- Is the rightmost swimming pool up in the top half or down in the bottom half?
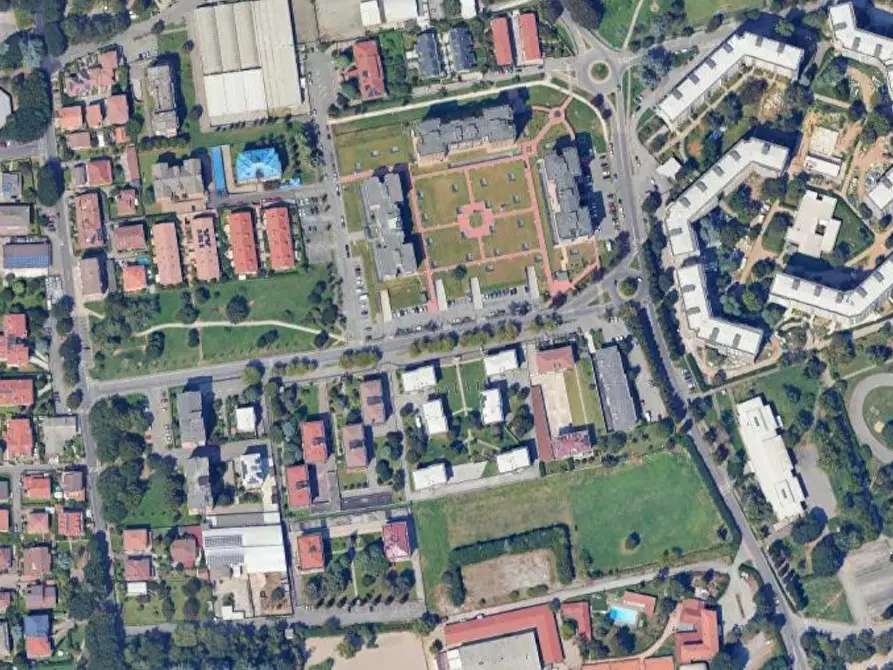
bottom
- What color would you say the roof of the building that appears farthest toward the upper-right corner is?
white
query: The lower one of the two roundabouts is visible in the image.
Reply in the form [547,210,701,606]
[609,266,648,305]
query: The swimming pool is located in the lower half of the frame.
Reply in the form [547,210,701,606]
[606,603,639,626]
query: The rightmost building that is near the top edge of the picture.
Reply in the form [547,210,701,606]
[828,2,893,103]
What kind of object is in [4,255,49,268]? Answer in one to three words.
solar panel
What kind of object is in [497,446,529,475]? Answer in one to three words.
building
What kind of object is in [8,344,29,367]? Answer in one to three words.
house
